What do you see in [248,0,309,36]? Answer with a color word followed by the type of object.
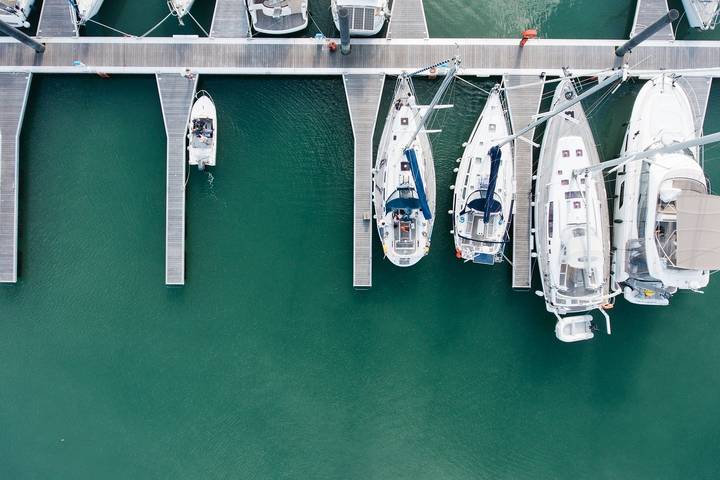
white boat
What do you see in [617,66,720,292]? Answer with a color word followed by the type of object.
white boat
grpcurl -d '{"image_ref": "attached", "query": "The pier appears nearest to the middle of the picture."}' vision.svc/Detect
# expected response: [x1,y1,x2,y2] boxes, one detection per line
[343,74,385,288]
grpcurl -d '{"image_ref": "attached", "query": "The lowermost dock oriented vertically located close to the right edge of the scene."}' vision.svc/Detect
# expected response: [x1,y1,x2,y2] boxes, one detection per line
[671,75,713,172]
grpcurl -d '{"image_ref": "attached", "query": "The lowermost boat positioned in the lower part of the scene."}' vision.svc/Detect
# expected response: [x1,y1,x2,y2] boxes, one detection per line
[555,315,600,343]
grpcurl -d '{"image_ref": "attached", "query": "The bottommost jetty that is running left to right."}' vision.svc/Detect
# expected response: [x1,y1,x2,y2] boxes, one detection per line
[0,36,720,79]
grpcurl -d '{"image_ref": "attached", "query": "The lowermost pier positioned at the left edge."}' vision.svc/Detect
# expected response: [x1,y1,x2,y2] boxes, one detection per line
[0,73,35,283]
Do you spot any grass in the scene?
No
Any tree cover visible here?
No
